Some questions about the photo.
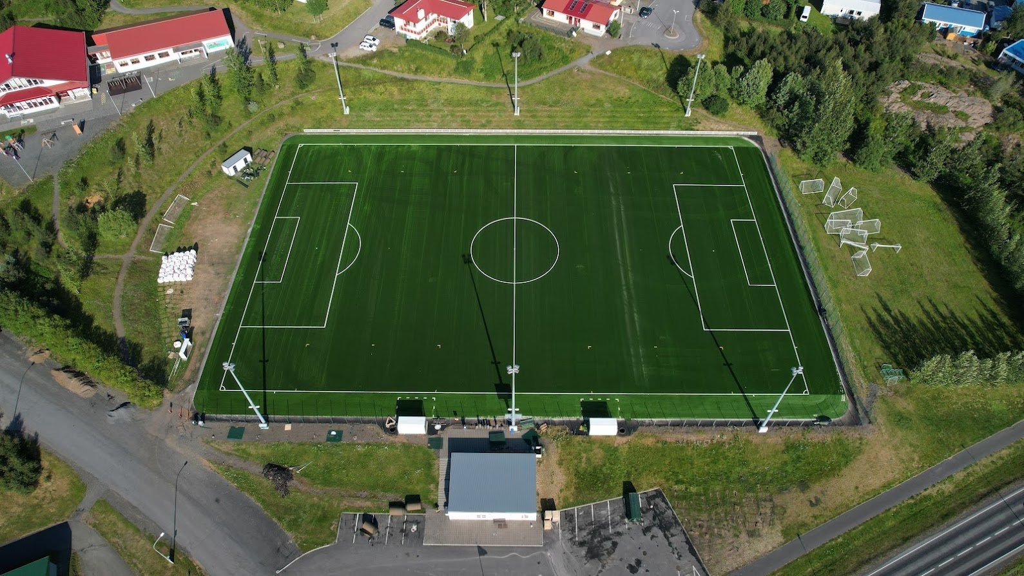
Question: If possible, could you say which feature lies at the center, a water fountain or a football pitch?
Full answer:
What appears at the center is a football pitch.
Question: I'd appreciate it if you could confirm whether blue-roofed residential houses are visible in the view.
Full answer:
Yes, you can see a blue-roofed residential house in this photo.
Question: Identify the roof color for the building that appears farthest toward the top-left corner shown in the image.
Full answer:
The color of the roof on the building that appears farthest toward the top-left corner is red.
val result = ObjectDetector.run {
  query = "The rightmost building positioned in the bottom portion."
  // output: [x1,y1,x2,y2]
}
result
[447,452,537,519]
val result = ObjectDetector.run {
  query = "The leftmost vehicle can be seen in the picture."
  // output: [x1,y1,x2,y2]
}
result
[177,318,194,344]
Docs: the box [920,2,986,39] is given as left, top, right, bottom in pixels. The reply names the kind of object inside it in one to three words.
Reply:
house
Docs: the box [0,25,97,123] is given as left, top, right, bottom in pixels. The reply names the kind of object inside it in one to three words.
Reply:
building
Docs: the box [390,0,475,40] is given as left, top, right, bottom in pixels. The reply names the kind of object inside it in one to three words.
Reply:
house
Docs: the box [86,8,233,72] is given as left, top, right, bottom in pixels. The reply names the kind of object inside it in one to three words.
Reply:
building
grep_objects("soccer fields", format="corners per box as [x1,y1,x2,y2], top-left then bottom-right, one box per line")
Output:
[190,134,866,436]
